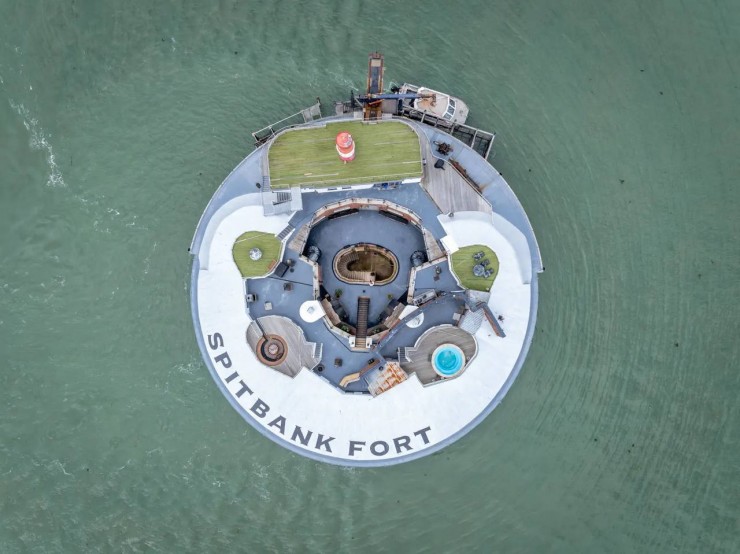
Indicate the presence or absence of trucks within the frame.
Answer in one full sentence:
No, the picture doesn't show any truck.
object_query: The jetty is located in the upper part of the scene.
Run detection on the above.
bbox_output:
[399,106,499,160]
